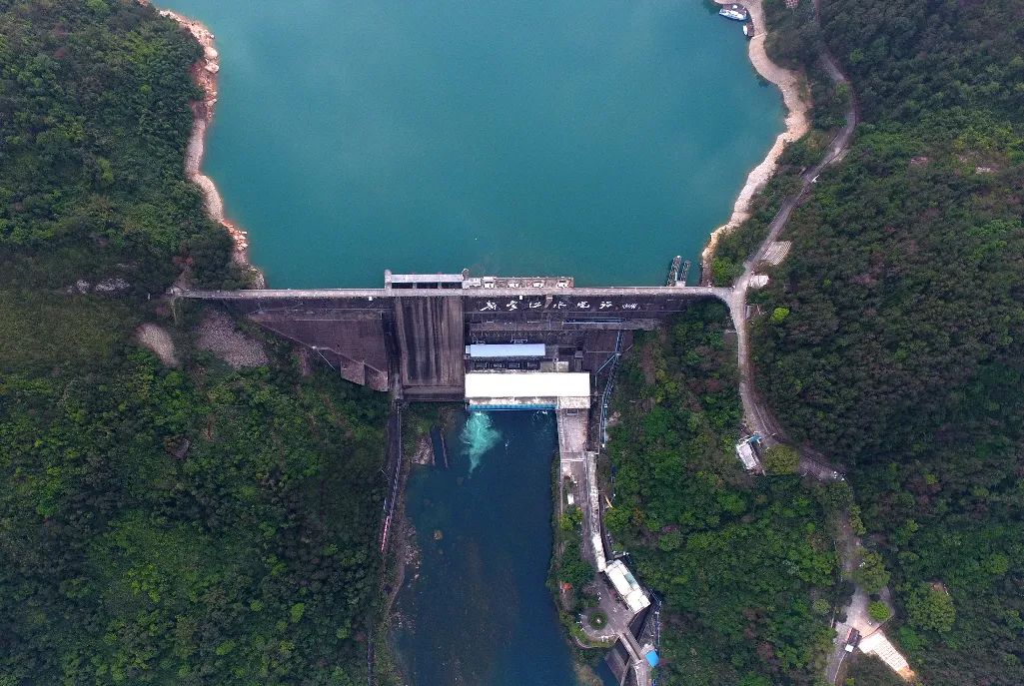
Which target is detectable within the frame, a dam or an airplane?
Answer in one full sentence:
Visible in the photo is a dam.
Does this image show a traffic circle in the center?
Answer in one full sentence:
No, no traffic circle appears in the center.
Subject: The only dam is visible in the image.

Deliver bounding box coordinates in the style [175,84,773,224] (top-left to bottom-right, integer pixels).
[182,269,746,401]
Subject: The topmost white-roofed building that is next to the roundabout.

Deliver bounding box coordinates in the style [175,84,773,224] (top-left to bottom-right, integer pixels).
[604,560,650,614]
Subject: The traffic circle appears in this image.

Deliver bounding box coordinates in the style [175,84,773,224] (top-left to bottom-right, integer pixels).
[581,601,614,637]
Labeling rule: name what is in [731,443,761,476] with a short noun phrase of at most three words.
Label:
house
